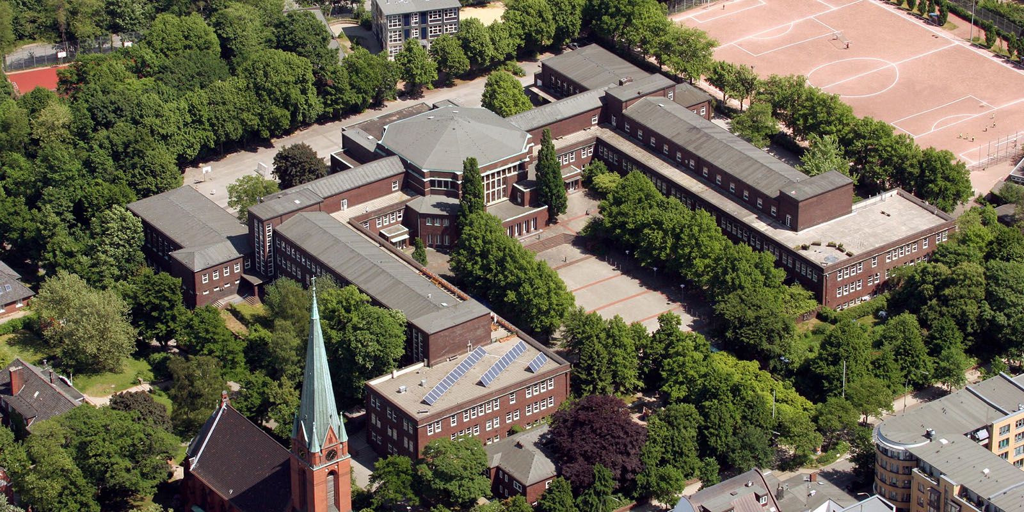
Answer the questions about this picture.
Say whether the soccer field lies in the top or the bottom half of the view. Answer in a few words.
top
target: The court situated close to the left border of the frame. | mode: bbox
[10,66,77,116]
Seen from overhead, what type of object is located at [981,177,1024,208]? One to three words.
shed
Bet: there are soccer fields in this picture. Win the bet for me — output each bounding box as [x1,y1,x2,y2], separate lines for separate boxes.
[592,0,1024,194]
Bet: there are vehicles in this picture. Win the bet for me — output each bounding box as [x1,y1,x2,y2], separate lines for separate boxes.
[836,477,857,492]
